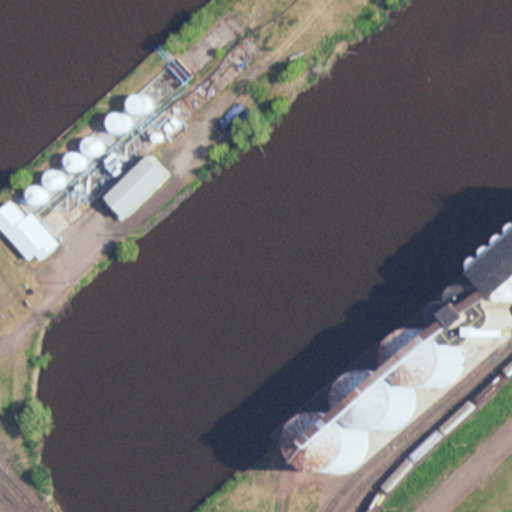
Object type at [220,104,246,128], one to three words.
truck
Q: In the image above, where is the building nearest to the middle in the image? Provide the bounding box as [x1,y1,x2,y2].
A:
[104,156,172,220]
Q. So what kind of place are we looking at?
industrial area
